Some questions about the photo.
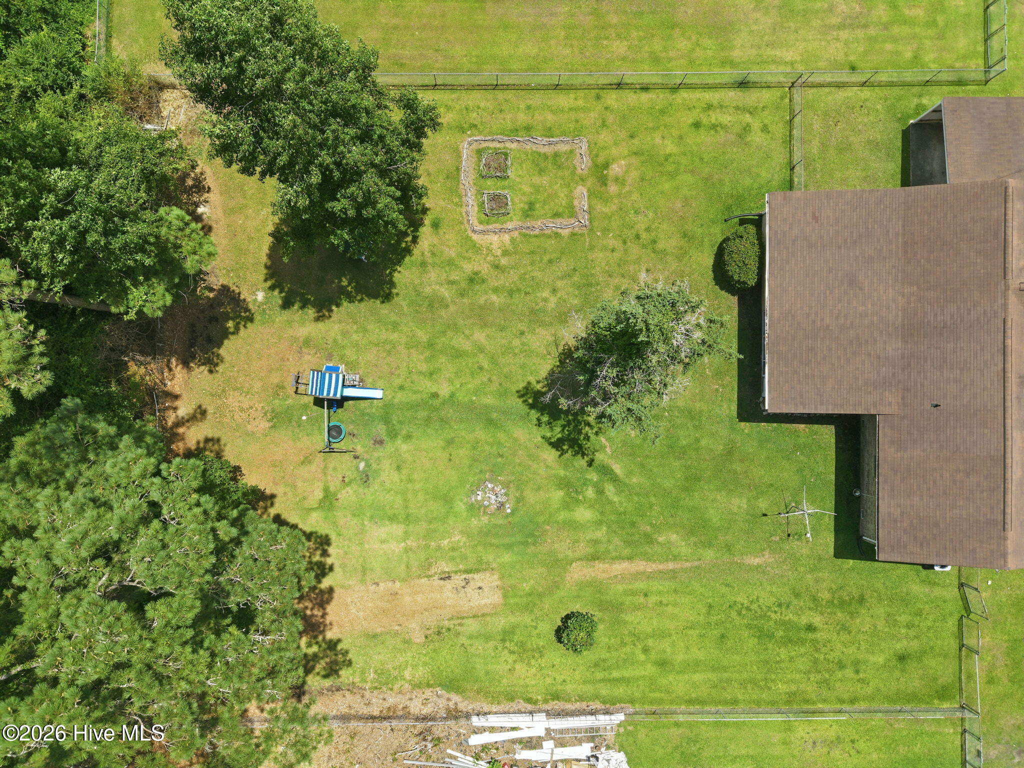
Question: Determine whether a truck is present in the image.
No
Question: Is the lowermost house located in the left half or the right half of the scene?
right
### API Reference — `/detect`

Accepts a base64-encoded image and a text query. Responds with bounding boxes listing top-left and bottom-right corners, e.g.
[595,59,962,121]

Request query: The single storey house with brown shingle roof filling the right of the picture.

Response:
[752,179,1024,569]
